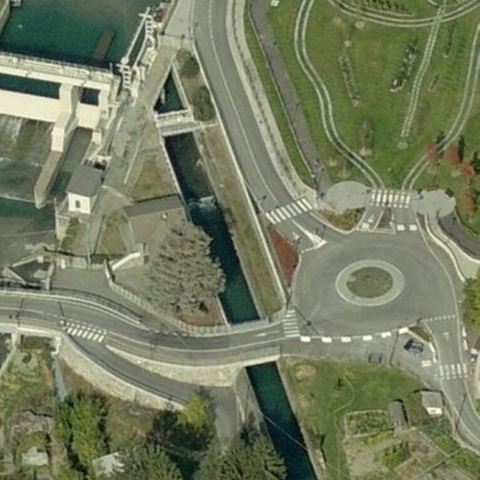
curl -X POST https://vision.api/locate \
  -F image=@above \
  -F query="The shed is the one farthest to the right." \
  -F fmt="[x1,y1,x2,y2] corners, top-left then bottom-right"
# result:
[420,390,444,420]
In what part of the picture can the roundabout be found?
right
